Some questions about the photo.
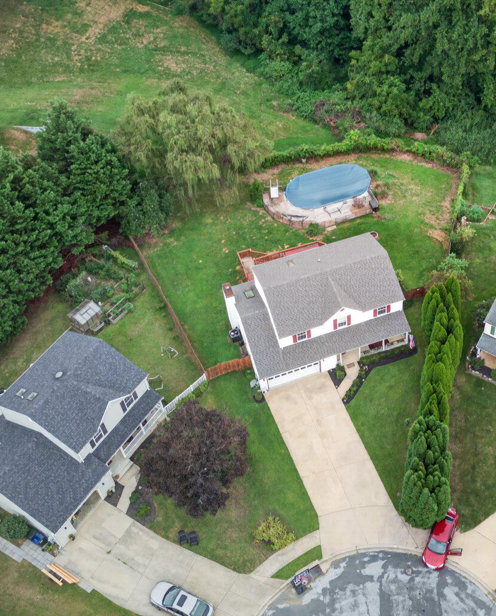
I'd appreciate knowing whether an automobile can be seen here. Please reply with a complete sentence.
Yes, the photo shows an automobile.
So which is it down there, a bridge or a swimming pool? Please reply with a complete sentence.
The image shows a swimming pool.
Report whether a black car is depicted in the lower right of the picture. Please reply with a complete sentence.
No, in the lower right of the picture there is no black car.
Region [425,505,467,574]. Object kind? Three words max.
car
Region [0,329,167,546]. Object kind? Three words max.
house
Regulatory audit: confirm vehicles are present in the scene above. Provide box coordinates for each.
[425,505,467,574]
[148,583,216,616]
